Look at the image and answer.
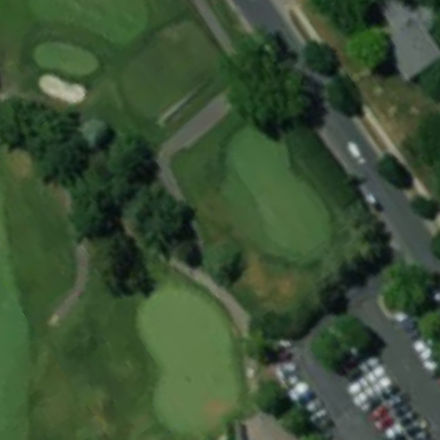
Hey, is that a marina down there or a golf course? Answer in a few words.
golf course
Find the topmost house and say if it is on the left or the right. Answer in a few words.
right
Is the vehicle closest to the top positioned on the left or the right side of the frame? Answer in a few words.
right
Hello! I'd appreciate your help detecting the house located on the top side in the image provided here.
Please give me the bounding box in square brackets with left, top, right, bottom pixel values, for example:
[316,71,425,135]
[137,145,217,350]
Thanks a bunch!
[380,0,440,80]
